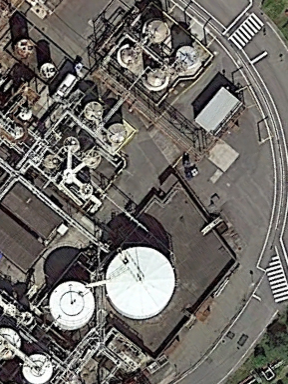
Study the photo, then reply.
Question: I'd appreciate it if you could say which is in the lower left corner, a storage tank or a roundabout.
storage tank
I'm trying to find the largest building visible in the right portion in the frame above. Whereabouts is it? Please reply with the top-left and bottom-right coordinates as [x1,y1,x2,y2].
[195,87,241,134]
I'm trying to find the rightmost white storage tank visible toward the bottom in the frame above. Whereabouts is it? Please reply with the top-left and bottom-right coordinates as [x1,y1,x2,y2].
[106,247,176,322]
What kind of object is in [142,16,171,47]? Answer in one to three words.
storage tank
